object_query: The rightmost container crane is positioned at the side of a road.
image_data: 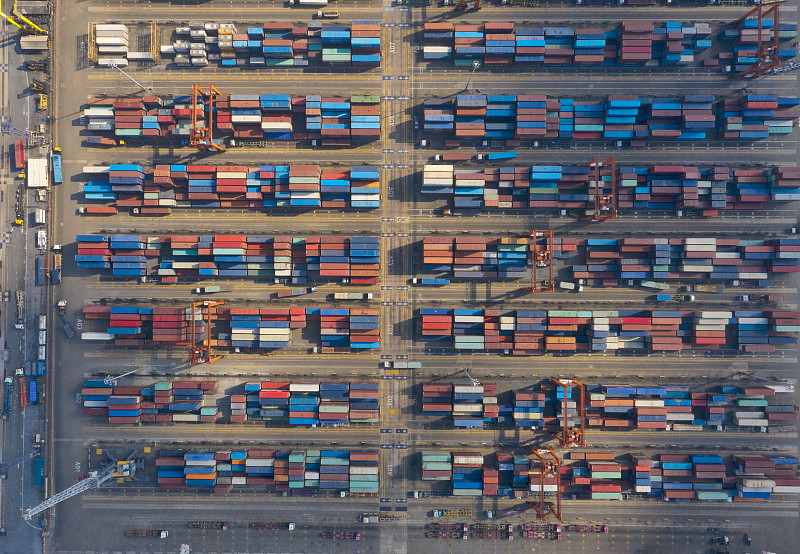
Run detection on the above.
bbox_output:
[734,2,779,80]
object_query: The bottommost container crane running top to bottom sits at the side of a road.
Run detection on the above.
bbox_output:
[530,445,562,518]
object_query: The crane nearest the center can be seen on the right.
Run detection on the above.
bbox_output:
[523,227,554,293]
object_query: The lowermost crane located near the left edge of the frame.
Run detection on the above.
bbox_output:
[22,450,147,528]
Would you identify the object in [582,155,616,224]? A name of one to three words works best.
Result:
container crane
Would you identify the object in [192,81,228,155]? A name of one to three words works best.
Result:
container crane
